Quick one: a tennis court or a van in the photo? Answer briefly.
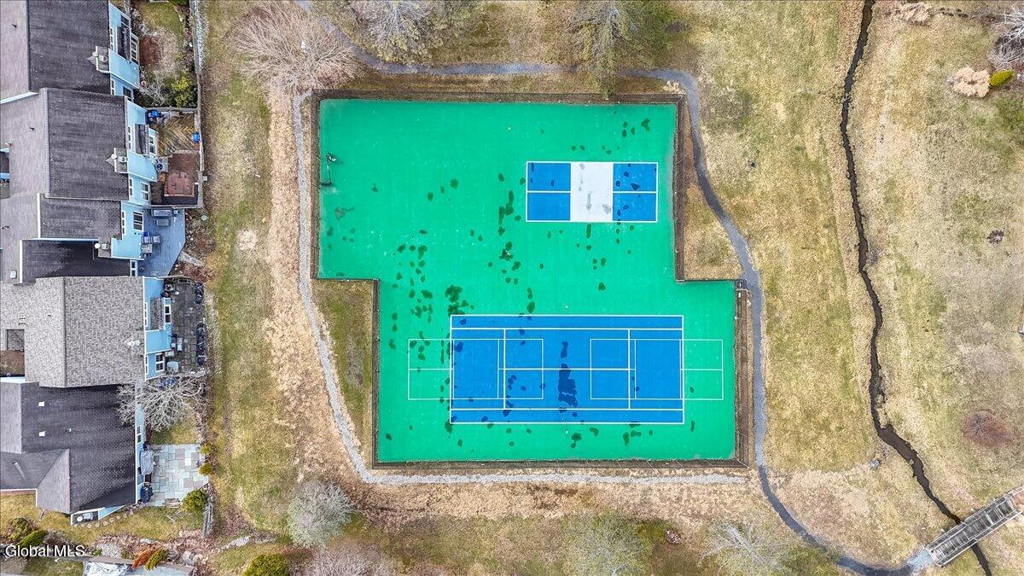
tennis court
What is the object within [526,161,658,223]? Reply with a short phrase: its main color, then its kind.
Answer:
blue sports court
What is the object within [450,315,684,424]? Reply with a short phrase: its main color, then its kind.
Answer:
blue tennis court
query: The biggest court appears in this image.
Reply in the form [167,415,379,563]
[319,99,736,462]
